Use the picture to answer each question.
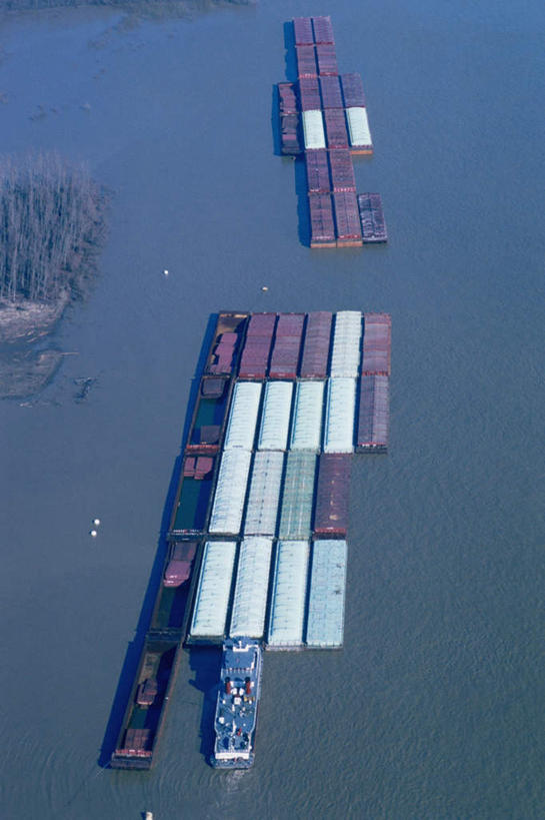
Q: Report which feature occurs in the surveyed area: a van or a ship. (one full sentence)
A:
The image shows a ship.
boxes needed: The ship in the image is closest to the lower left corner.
[113,637,182,767]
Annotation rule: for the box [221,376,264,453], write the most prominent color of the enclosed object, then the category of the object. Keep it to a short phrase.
white ship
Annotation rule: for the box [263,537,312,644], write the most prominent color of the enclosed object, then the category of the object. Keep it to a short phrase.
white ship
